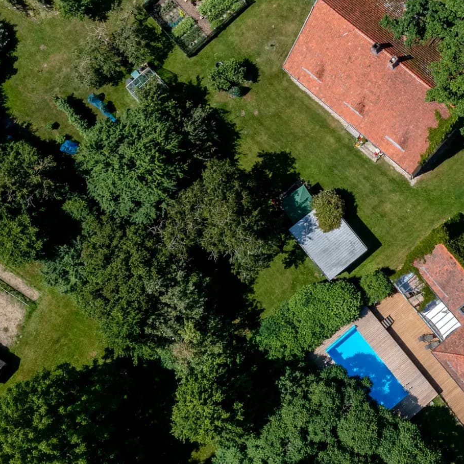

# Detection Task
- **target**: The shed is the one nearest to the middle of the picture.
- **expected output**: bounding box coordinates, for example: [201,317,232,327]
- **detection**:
[289,202,367,276]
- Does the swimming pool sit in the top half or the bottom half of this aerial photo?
bottom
